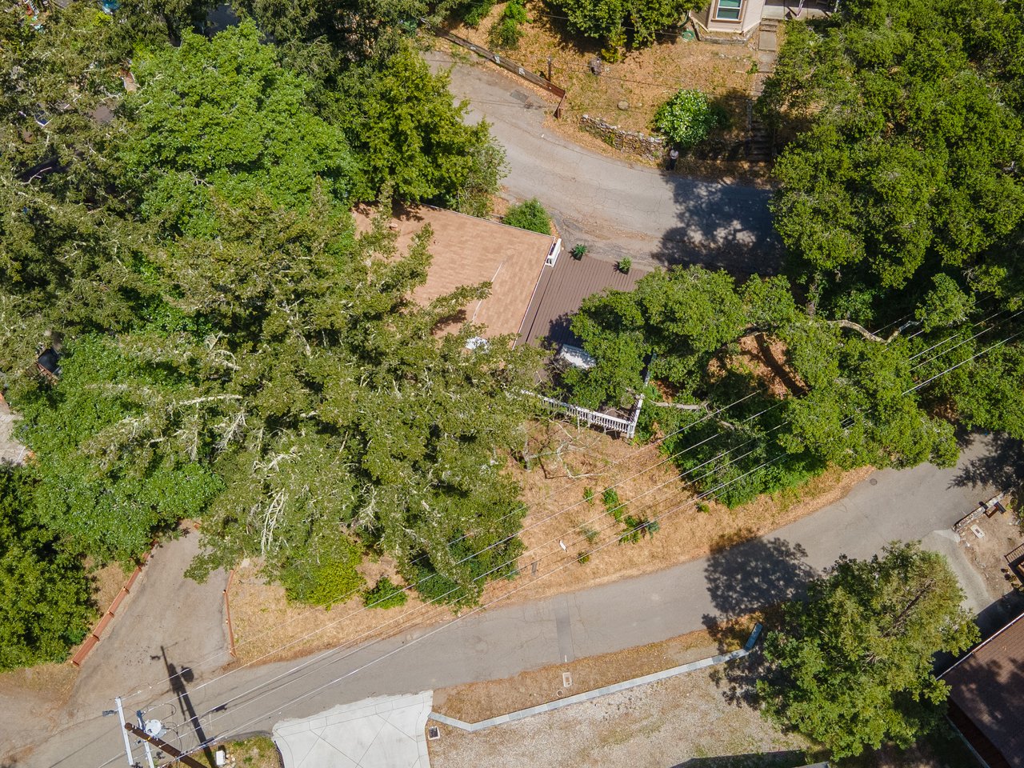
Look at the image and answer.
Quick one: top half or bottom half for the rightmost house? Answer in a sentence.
The rightmost house sits in the bottom half of the picture.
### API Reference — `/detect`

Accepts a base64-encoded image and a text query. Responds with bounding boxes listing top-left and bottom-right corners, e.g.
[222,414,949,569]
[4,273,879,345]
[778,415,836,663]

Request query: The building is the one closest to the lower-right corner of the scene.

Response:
[917,610,1024,768]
